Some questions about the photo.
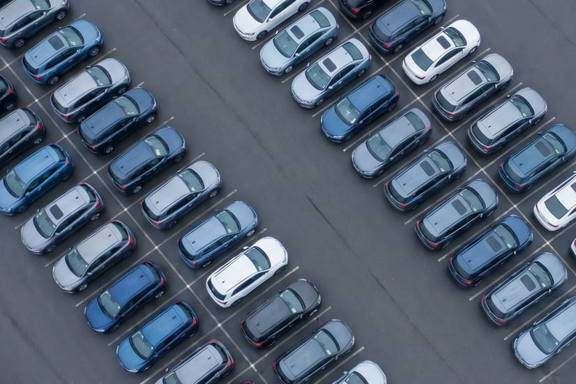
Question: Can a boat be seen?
No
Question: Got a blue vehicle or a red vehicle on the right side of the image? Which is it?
blue vehicle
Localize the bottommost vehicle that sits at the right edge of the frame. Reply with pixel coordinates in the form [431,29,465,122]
[513,293,576,369]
